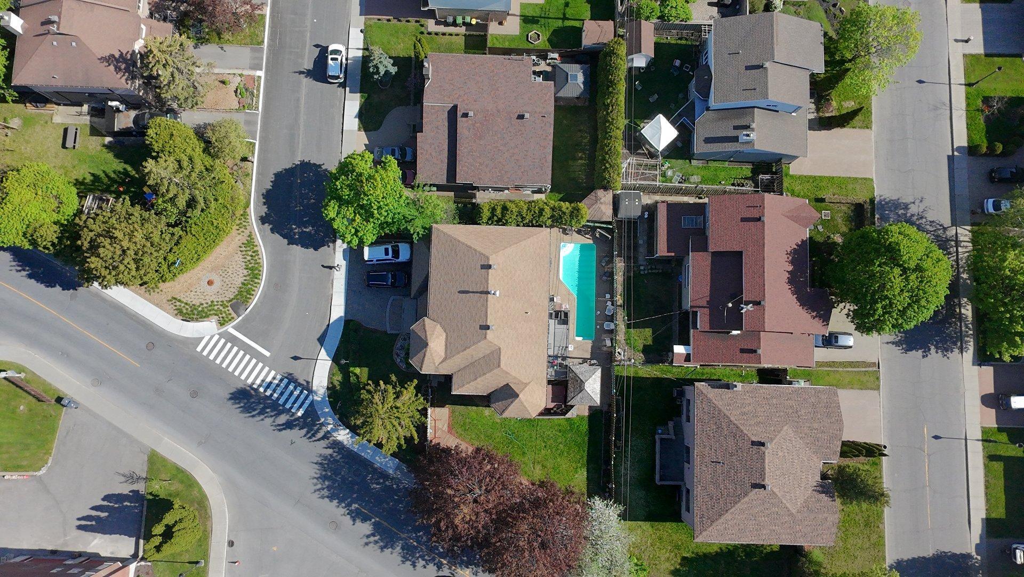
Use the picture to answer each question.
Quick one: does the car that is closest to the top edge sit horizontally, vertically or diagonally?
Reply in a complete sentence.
Seen from above, the car that is closest to the top edge lies vertically.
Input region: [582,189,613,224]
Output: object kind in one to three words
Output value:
shed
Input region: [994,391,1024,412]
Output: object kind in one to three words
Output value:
car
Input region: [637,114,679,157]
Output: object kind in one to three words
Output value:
tent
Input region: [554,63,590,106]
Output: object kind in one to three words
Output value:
gazebo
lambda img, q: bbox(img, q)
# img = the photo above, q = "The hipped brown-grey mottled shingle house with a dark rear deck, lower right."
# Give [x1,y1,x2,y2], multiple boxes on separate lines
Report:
[683,382,844,546]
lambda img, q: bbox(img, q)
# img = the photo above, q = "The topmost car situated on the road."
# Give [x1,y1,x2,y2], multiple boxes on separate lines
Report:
[326,44,346,84]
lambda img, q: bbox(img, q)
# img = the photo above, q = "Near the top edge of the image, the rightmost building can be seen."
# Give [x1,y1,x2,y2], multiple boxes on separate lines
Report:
[689,11,825,165]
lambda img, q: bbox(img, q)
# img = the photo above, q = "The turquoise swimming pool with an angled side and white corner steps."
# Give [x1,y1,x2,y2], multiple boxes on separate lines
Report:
[558,241,597,342]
